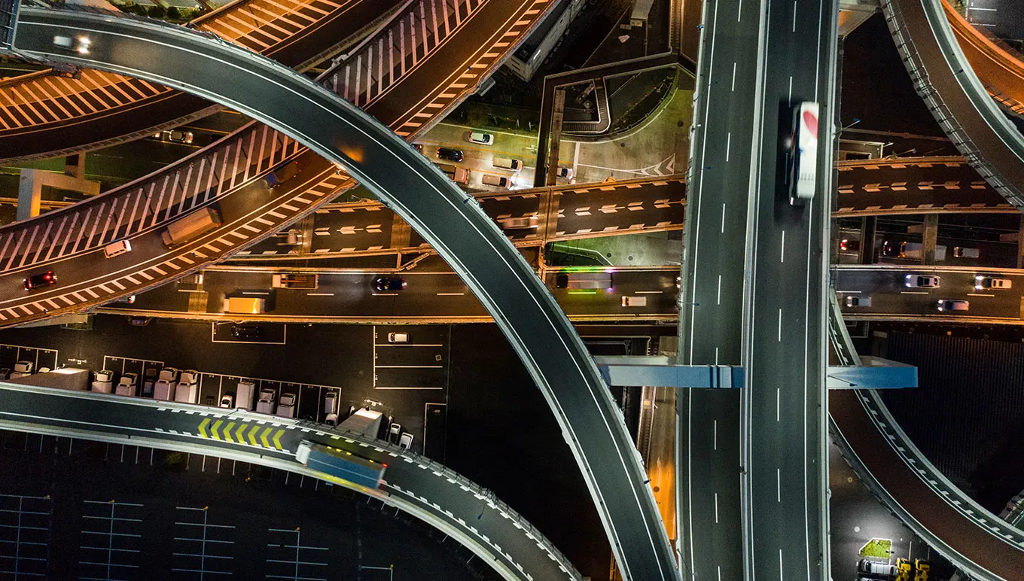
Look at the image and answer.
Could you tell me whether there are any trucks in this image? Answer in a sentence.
Yes, there's a truck here.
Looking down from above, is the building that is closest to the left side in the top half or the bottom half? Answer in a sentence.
The building that is closest to the left side is in the top half of the image.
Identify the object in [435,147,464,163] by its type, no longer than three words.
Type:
car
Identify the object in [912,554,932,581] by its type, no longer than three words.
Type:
work vehicle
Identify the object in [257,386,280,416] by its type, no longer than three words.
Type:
truck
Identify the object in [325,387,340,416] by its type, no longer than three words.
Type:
vehicle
